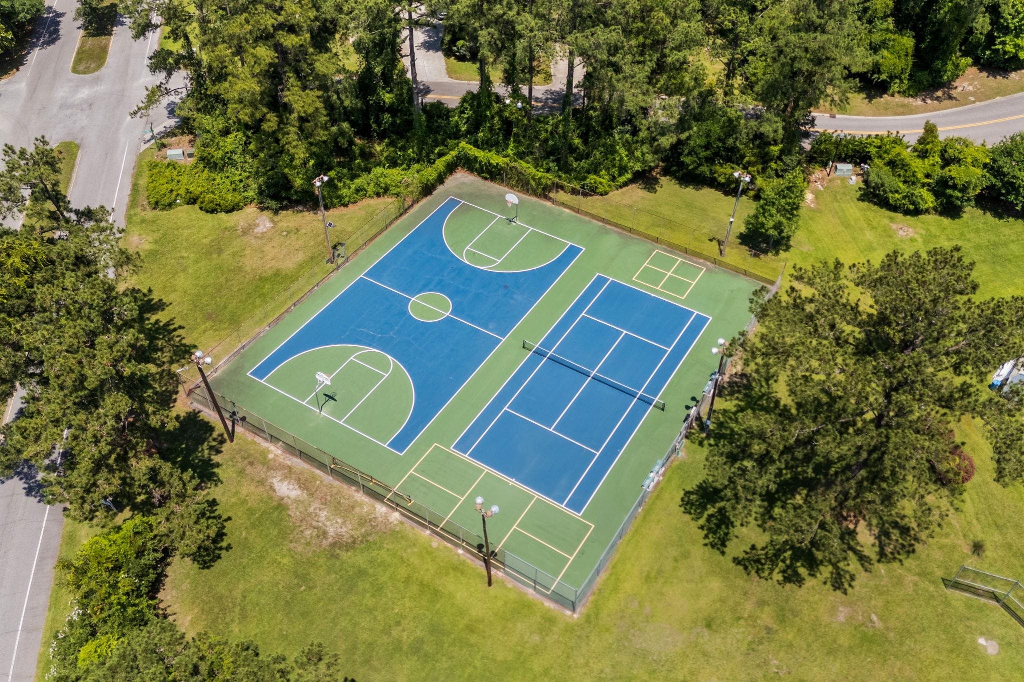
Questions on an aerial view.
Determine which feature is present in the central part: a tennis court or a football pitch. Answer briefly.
tennis court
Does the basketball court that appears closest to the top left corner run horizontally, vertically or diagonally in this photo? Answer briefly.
diagonally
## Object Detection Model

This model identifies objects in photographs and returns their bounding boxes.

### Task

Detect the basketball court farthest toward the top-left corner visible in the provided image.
[248,197,585,455]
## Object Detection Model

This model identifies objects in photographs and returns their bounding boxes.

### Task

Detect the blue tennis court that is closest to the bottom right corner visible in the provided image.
[451,273,710,515]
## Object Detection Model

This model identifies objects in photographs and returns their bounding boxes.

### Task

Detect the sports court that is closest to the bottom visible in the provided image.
[386,443,594,592]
